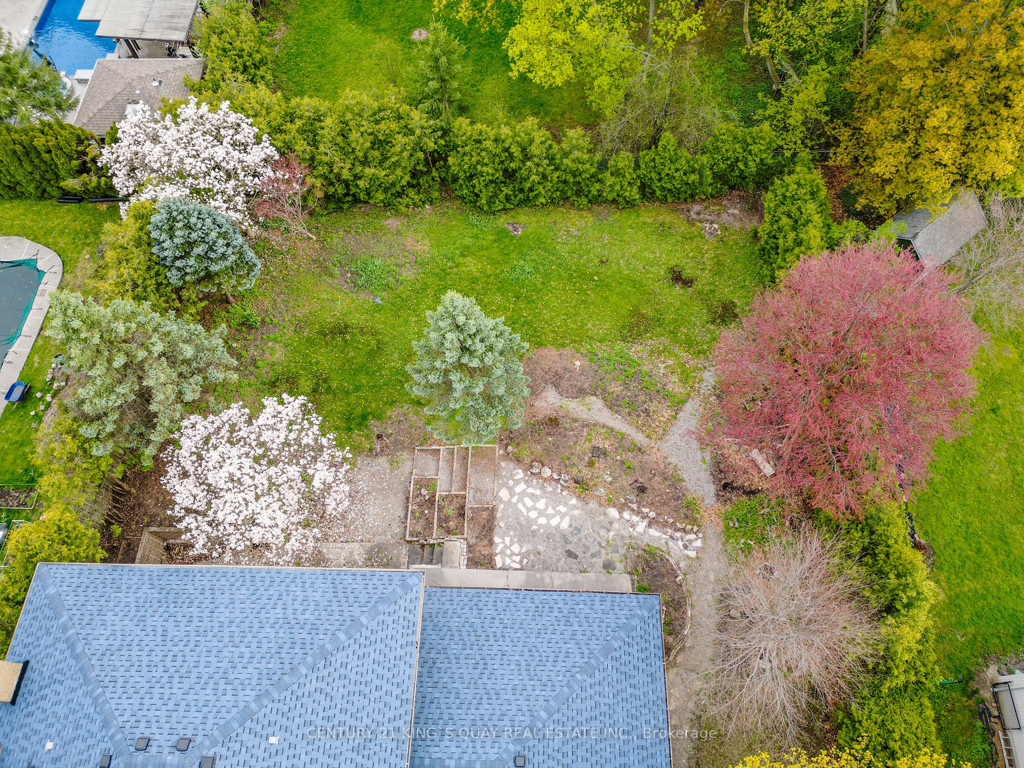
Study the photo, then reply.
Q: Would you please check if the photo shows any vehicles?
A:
No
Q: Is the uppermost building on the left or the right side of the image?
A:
left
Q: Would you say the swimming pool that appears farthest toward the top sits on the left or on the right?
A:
left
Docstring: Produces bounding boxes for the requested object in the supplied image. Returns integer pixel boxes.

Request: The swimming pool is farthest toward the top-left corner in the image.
[14,0,75,81]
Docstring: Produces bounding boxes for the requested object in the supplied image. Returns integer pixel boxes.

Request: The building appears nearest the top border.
[76,0,211,59]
